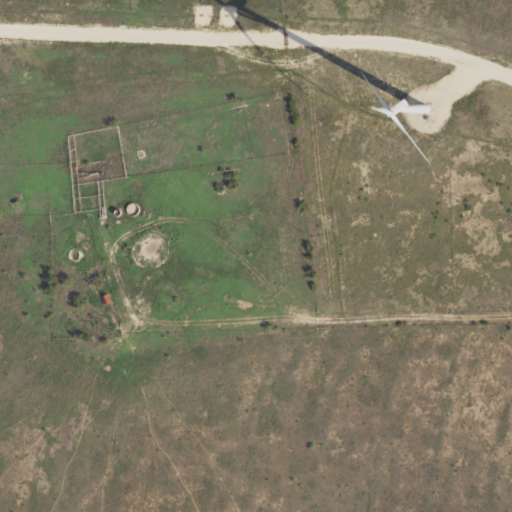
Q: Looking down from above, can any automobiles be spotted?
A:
No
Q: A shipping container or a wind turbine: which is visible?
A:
wind turbine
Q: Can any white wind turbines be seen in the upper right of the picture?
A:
Yes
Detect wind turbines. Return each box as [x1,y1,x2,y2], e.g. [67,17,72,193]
[360,73,432,165]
